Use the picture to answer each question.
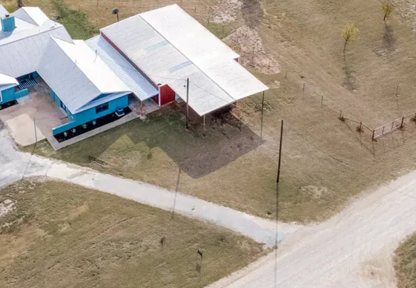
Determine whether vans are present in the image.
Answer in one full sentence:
No, the picture doesn't show any van.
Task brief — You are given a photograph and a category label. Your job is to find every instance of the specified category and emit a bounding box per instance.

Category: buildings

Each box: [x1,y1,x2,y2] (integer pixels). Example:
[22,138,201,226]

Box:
[0,4,133,135]
[100,4,269,134]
